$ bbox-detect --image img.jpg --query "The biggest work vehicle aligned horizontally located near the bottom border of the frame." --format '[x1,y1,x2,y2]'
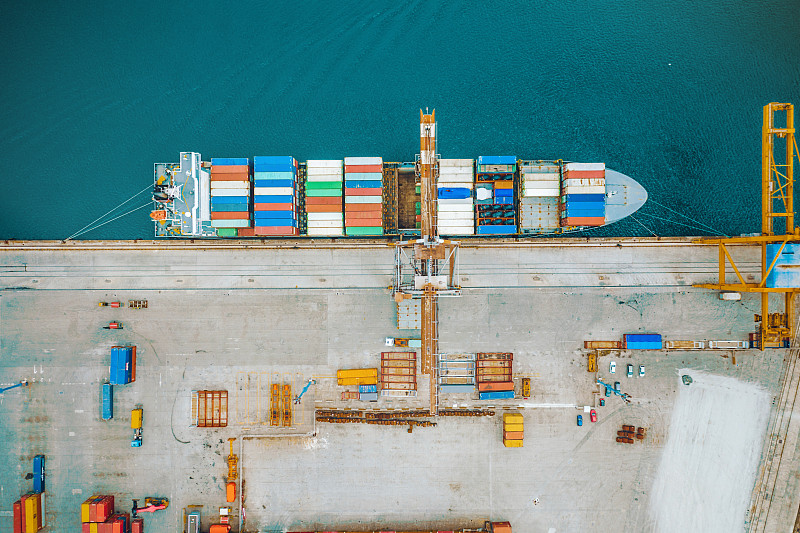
[125,497,171,517]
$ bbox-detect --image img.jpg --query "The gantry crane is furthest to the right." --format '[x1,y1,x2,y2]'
[688,102,800,349]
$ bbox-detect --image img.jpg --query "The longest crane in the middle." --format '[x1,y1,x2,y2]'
[390,107,461,413]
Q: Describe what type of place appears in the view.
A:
port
